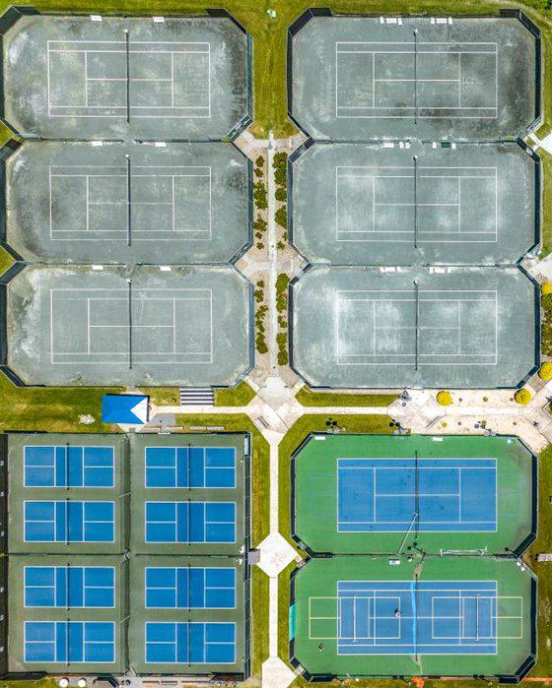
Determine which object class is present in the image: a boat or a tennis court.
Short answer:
tennis court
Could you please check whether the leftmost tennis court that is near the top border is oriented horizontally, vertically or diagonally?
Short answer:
horizontally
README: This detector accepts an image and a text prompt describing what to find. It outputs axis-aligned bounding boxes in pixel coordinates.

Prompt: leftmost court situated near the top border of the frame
[5,15,246,140]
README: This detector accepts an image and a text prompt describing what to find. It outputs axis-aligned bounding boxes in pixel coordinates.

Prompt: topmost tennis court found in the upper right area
[293,16,540,141]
